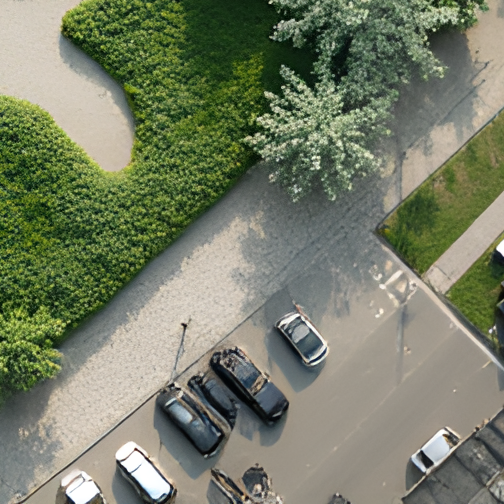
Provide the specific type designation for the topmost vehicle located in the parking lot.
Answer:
automobile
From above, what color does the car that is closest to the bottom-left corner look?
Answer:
white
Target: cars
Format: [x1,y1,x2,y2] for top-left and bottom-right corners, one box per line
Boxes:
[274,306,330,371]
[406,425,460,476]
[158,379,230,463]
[116,435,177,504]
[188,370,240,427]
[212,341,287,429]
[67,466,117,504]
